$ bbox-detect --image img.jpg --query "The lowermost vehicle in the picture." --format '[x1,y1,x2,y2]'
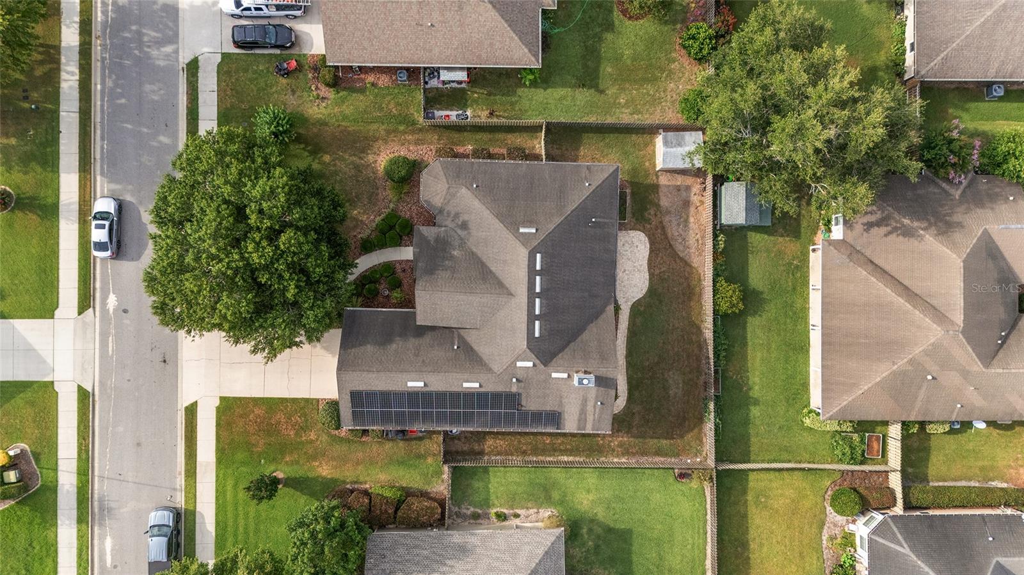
[145,504,181,575]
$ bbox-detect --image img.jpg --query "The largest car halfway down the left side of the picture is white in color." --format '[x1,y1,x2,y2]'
[86,196,122,258]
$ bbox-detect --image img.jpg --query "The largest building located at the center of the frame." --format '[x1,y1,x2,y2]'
[337,157,621,436]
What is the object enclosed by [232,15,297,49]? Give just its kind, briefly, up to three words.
car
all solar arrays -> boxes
[351,391,559,429]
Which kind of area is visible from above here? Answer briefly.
residential area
